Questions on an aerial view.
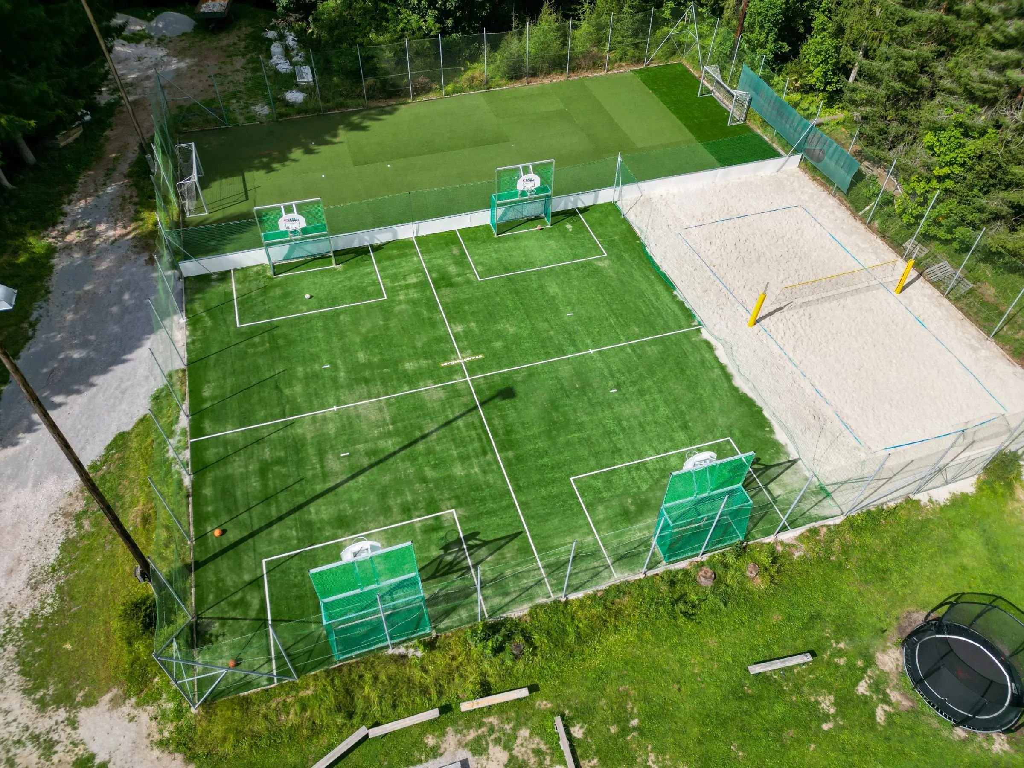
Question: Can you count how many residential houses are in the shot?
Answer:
zero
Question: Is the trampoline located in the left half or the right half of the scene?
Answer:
right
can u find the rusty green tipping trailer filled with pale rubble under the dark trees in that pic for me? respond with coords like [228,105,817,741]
[193,0,238,33]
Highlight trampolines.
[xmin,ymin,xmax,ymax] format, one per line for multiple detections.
[894,600,1024,738]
